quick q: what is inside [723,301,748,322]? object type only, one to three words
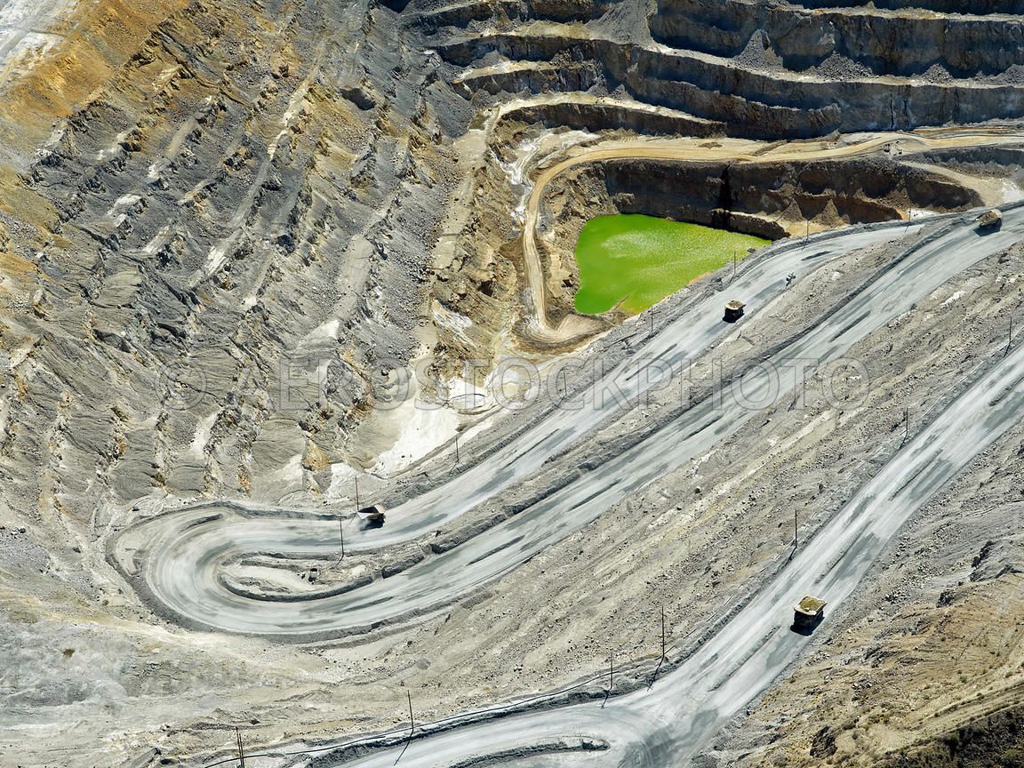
truck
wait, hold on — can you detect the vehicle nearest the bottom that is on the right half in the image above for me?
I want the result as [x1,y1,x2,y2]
[790,600,827,636]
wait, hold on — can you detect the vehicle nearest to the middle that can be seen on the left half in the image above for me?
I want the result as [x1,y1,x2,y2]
[356,503,387,529]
